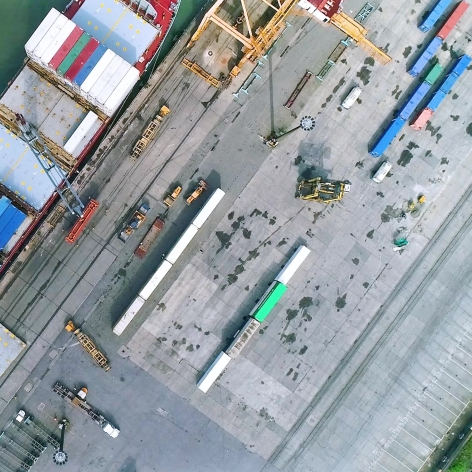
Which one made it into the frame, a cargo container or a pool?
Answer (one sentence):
It is a cargo container that can be seen here.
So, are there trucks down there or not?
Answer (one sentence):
Yes, I can see a truck in this picture.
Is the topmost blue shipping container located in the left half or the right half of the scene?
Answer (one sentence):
It is on the right.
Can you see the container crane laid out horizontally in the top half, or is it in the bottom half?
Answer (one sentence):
It is in the top half that the container crane laid out horizontally appears.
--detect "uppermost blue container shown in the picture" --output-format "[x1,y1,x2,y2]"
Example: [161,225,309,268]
[416,0,451,34]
